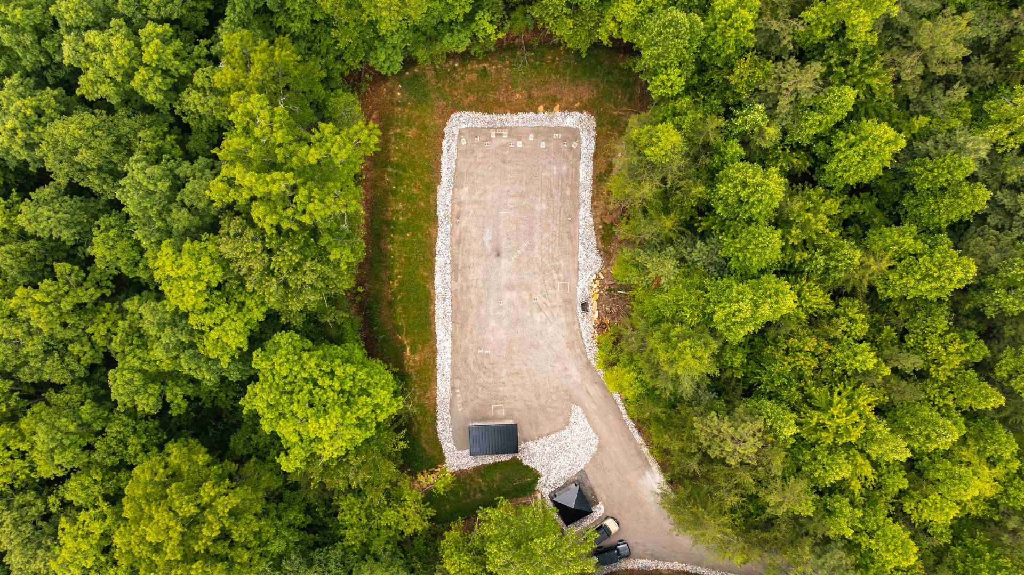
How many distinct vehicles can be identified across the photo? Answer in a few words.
2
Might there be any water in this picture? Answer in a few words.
No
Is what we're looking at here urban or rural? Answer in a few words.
rural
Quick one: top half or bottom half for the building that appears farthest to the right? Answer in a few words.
bottom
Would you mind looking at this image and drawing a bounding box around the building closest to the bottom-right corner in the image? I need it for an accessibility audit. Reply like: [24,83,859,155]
[552,482,593,525]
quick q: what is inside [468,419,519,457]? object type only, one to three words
shed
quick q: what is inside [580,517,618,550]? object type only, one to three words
car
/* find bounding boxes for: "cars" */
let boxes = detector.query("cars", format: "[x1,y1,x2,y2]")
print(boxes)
[580,517,618,550]
[595,540,632,568]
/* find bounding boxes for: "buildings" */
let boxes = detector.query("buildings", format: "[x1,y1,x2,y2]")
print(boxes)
[552,482,593,525]
[468,419,519,457]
